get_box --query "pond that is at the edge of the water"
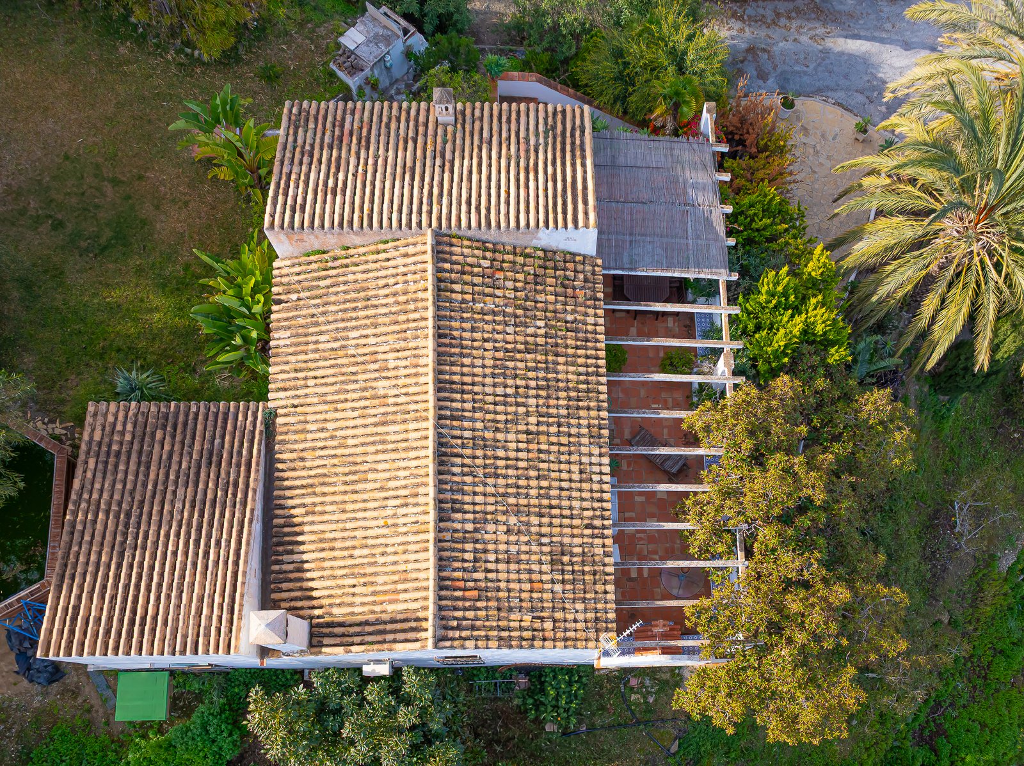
[0,419,78,623]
